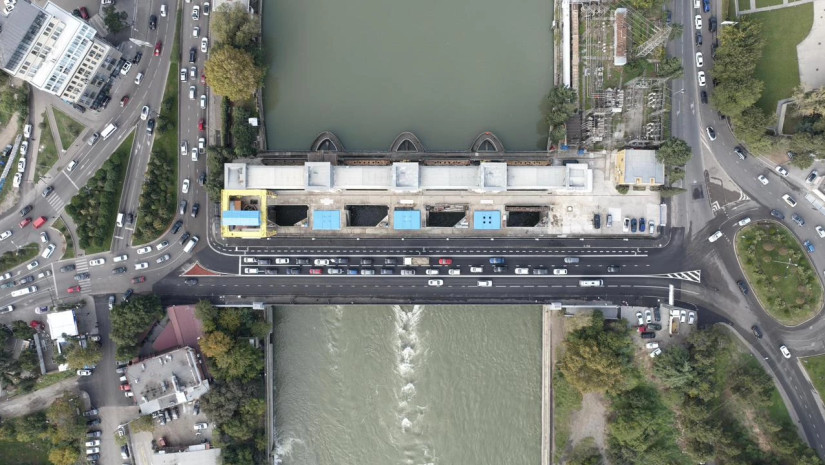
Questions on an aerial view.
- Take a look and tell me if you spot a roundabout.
Yes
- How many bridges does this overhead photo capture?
one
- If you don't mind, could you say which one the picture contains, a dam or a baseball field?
dam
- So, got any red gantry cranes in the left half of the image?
No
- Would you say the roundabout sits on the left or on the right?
right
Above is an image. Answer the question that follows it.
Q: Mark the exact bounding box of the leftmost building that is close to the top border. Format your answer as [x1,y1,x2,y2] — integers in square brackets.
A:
[0,2,127,112]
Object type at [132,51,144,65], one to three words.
vehicle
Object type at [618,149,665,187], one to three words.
building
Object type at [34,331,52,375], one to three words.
shed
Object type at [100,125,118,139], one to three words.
vehicle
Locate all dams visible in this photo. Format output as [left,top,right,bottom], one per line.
[222,131,670,238]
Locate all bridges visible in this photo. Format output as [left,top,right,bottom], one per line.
[139,200,705,307]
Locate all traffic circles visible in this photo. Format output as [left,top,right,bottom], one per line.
[736,220,824,327]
